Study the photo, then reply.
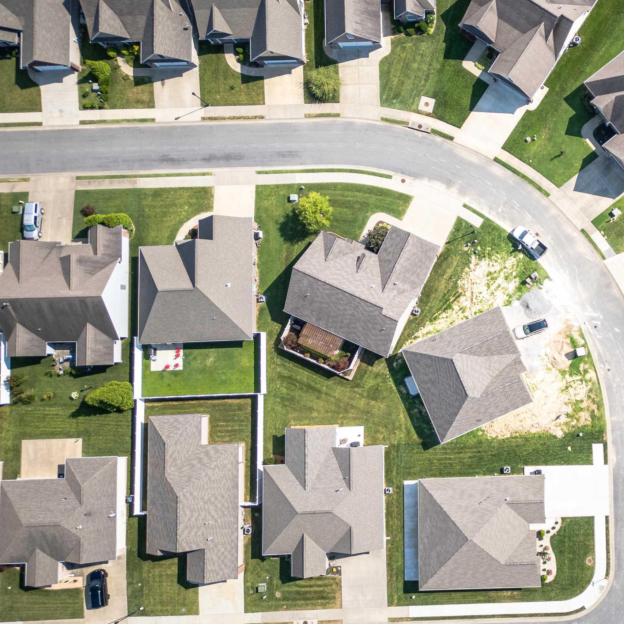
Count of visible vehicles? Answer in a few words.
4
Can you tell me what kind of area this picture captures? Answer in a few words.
residential area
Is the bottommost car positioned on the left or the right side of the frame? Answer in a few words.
left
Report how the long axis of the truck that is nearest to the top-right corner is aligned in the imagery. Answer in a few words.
on a diagonal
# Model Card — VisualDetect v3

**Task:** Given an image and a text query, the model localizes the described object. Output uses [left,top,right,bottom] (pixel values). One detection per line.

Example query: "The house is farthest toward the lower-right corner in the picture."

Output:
[419,474,545,591]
